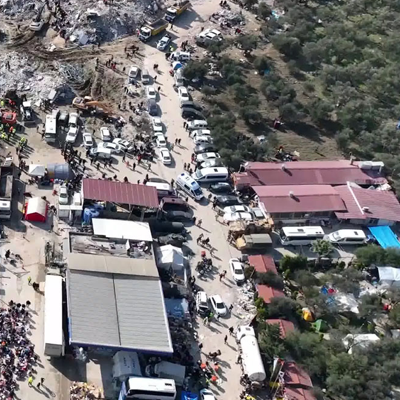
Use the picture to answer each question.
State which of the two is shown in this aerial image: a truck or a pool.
truck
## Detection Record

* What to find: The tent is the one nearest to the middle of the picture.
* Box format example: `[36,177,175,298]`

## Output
[159,244,184,276]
